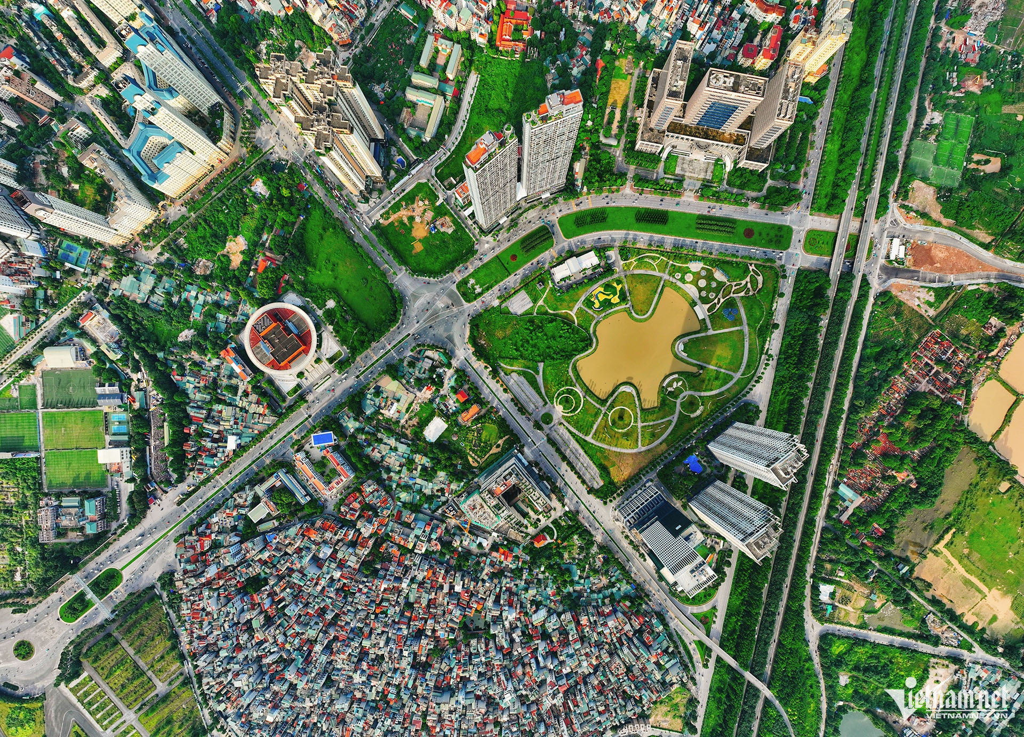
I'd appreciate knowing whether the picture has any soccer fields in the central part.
No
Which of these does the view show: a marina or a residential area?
residential area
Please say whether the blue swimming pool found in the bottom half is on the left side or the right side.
right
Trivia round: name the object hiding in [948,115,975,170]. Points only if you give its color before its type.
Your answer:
green soccer field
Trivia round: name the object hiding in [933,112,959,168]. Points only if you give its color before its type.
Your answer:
green soccer field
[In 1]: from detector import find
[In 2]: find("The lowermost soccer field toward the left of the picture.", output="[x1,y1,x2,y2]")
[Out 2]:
[45,450,107,489]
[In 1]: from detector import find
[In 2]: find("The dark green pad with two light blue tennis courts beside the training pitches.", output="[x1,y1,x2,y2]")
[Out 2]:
[107,412,129,435]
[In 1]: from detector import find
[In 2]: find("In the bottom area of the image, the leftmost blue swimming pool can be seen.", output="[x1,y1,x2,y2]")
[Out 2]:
[683,453,703,474]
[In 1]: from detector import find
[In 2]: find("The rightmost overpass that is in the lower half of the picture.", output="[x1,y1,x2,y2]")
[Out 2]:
[611,538,796,737]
